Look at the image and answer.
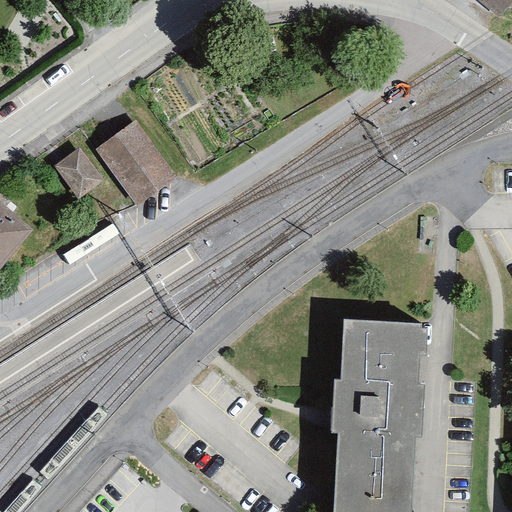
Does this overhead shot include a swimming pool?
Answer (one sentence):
No, the photo shows no swimming pool.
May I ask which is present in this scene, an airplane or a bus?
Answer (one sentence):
Visible in the photo is a bus.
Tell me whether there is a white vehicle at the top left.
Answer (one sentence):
Yes, there is a white vehicle at the top left.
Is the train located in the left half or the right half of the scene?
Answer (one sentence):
The train sits on the left side.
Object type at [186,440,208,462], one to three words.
car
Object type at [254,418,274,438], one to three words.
car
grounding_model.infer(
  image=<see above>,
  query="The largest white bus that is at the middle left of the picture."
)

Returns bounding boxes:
[64,222,121,264]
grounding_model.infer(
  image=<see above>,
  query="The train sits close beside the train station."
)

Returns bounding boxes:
[8,405,107,512]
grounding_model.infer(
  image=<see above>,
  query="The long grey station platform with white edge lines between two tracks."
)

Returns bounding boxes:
[0,243,200,388]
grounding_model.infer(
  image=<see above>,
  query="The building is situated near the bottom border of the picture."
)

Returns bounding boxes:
[331,320,429,512]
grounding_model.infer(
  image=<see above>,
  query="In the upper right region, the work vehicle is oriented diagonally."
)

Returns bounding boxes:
[384,83,412,104]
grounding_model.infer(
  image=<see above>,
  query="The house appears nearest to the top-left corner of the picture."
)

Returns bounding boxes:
[54,148,104,198]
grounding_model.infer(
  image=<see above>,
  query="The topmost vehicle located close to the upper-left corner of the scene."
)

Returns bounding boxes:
[46,64,71,85]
